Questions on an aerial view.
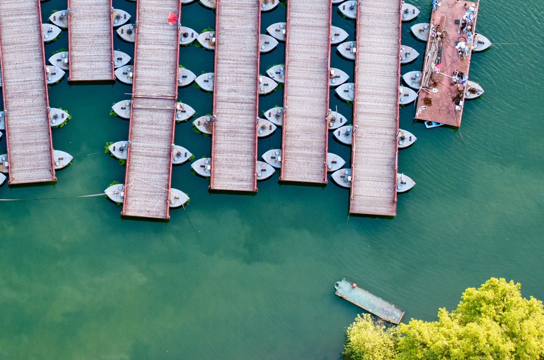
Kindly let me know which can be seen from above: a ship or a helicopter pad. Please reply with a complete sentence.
It is a ship that can be seen here.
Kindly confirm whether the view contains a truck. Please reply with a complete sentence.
No, the picture doesn't show any truck.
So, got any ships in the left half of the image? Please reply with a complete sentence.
No, there is no ship in the left half of the image.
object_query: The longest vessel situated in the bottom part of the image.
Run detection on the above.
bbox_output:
[336,279,404,325]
